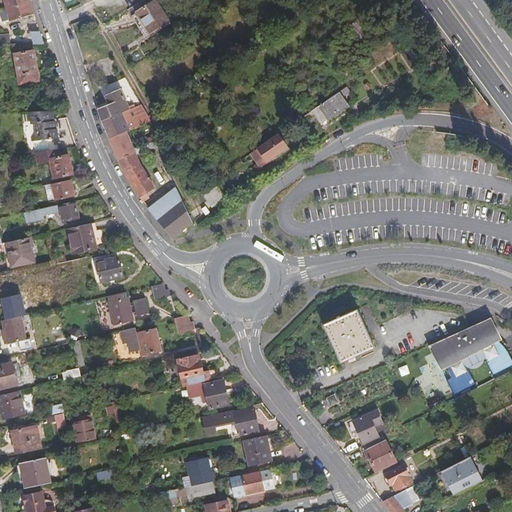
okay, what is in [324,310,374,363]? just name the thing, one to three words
building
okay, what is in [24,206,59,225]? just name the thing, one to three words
shed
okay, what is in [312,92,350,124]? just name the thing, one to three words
house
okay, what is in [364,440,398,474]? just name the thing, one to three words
house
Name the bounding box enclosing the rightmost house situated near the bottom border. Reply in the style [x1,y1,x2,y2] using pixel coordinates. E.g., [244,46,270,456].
[442,458,484,497]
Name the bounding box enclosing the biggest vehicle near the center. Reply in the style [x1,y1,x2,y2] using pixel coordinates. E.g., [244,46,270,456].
[254,240,284,262]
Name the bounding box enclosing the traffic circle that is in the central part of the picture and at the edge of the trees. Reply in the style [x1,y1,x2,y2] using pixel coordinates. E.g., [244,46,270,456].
[201,234,289,322]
